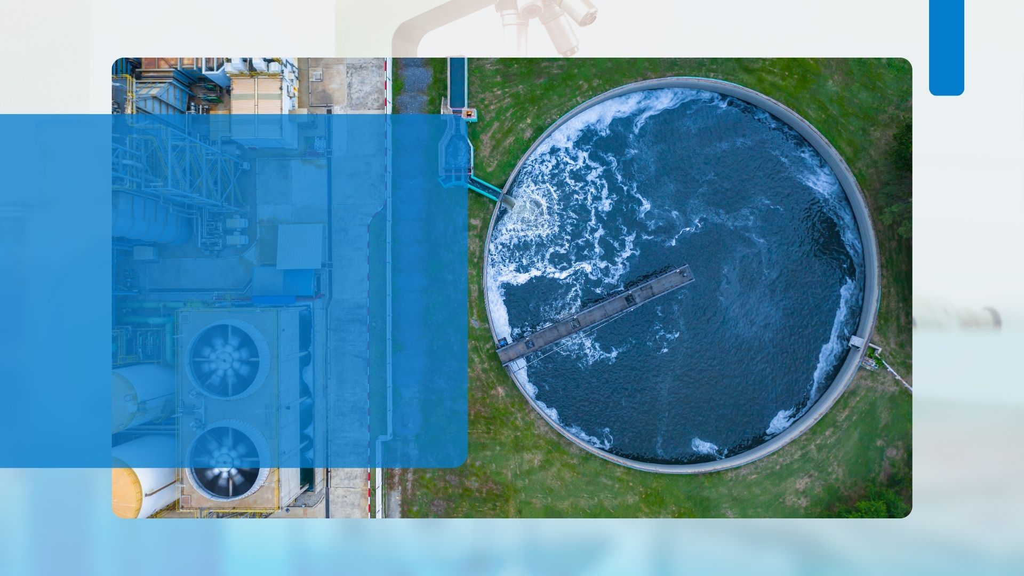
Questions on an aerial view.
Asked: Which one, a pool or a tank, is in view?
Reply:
tank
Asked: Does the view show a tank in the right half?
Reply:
Yes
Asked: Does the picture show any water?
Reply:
Yes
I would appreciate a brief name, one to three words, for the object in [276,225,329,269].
shed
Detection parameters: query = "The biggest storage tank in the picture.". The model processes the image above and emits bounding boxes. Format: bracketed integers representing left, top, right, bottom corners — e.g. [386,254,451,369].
[483,77,880,474]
